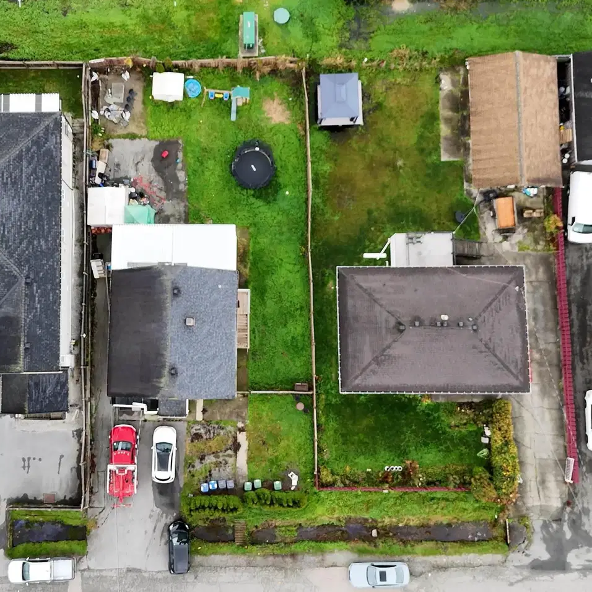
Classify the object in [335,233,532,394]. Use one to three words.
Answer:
house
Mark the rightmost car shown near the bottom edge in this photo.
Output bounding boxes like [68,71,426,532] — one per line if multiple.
[346,559,411,592]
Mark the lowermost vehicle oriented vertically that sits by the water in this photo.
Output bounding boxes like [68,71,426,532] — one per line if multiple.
[165,518,192,577]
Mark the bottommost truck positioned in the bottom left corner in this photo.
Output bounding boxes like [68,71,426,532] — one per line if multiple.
[7,554,77,589]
